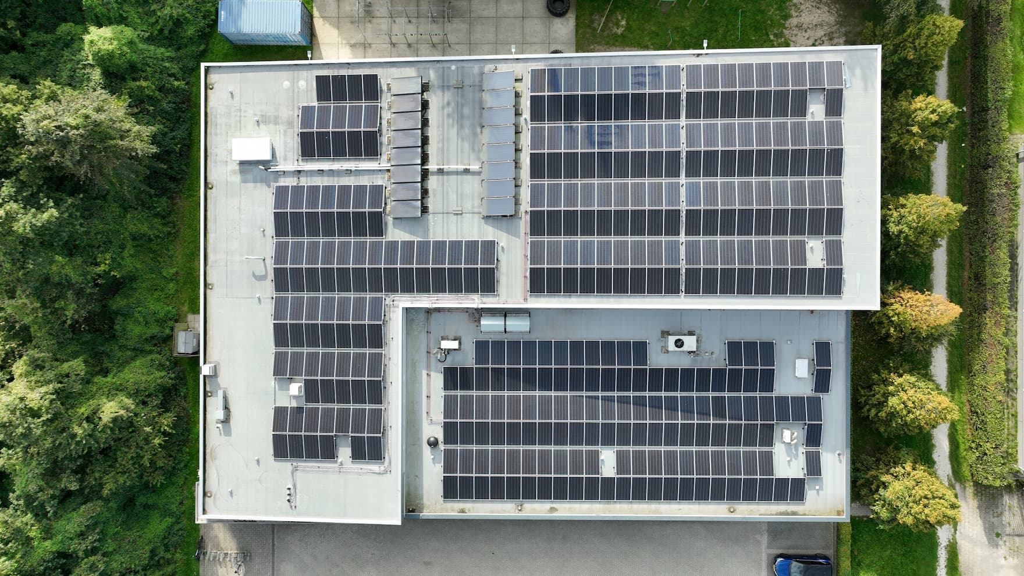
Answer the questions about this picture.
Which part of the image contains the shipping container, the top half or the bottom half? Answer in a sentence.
The top half of the photo is where the shipping container is.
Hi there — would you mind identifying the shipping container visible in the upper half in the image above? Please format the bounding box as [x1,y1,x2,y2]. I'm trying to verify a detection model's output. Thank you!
[218,0,311,45]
